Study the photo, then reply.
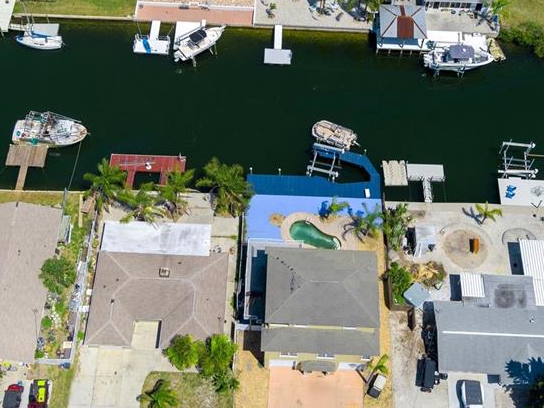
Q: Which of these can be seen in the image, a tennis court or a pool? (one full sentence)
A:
Of the two, only a pool appears.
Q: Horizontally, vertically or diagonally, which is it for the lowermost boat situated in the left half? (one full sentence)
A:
The lowermost boat situated in the left half is laid out horizontally.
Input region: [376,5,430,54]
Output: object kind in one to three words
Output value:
building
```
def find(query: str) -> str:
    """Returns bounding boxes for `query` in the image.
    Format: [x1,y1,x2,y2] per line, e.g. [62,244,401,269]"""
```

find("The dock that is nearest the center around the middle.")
[247,144,382,198]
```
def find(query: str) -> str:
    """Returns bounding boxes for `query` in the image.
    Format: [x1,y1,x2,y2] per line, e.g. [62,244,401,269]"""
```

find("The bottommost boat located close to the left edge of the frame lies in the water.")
[10,110,89,143]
